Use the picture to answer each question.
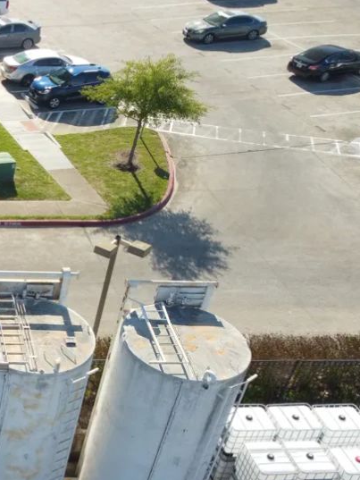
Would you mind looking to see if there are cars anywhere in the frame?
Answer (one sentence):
Yes, you can see a car in this photo.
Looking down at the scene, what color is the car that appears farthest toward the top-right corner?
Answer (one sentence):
The color of the car that appears farthest toward the top-right corner is black.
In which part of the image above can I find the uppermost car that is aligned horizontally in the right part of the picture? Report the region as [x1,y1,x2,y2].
[185,8,271,41]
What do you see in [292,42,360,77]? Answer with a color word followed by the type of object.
black car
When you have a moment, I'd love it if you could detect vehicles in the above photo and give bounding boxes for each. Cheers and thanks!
[0,45,83,81]
[185,8,271,41]
[30,57,122,99]
[292,42,360,77]
[0,18,46,47]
